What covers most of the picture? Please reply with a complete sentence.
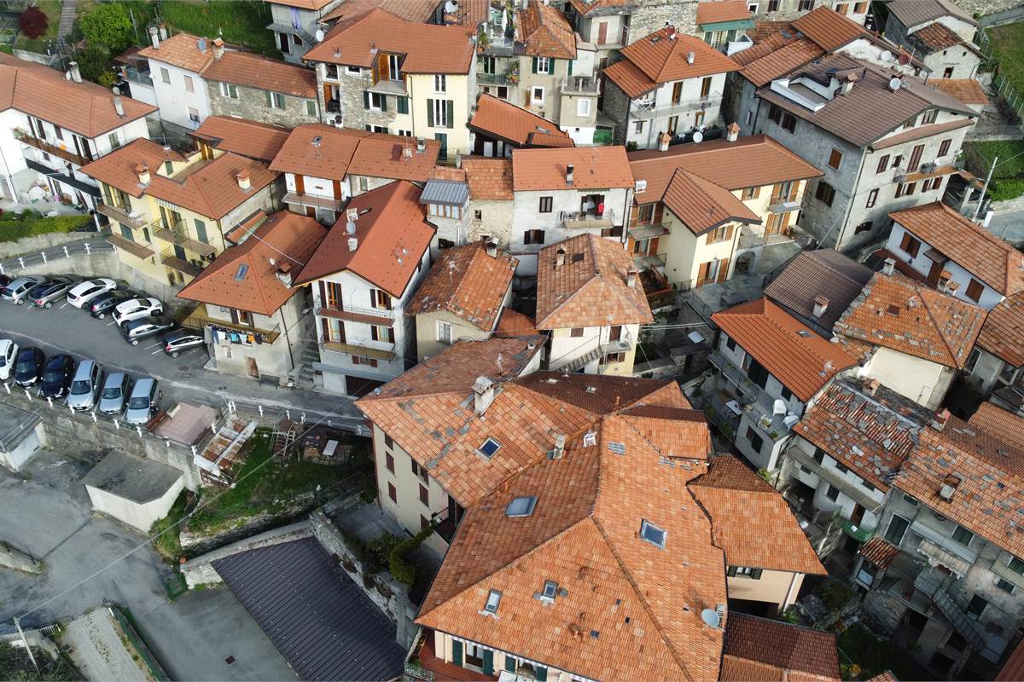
The bulk of the photo consists of buildings.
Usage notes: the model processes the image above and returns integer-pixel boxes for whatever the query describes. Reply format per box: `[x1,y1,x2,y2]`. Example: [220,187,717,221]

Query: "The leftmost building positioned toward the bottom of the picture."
[0,403,48,478]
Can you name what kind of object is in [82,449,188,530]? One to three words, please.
building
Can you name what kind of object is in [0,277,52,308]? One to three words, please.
car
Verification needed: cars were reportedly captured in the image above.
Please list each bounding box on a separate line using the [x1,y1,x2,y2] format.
[67,360,105,410]
[95,371,132,418]
[82,289,140,323]
[64,276,123,307]
[0,277,52,308]
[0,332,22,382]
[122,372,160,426]
[39,353,77,398]
[113,315,181,351]
[24,276,78,311]
[11,346,50,391]
[107,296,170,329]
